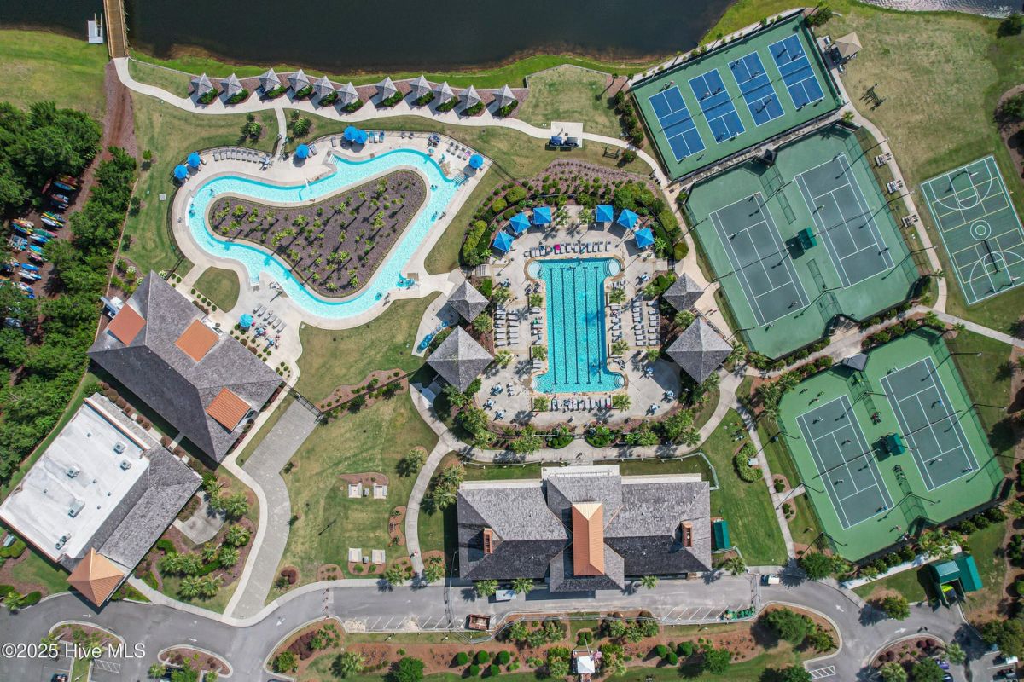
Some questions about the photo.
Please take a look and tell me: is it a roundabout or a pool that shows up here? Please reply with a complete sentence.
I can see a pool in this picture.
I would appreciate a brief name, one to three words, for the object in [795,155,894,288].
tennis court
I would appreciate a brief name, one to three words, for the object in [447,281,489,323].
building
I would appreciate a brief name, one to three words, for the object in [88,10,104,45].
pier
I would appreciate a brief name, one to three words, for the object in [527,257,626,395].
swimming pool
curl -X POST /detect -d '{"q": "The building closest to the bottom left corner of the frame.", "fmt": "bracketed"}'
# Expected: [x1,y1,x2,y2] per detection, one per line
[0,393,206,570]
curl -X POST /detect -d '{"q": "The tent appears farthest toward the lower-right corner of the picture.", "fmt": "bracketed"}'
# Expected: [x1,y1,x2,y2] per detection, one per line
[577,655,595,674]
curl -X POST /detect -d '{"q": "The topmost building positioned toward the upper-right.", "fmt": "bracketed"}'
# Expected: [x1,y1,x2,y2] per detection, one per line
[829,31,863,63]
